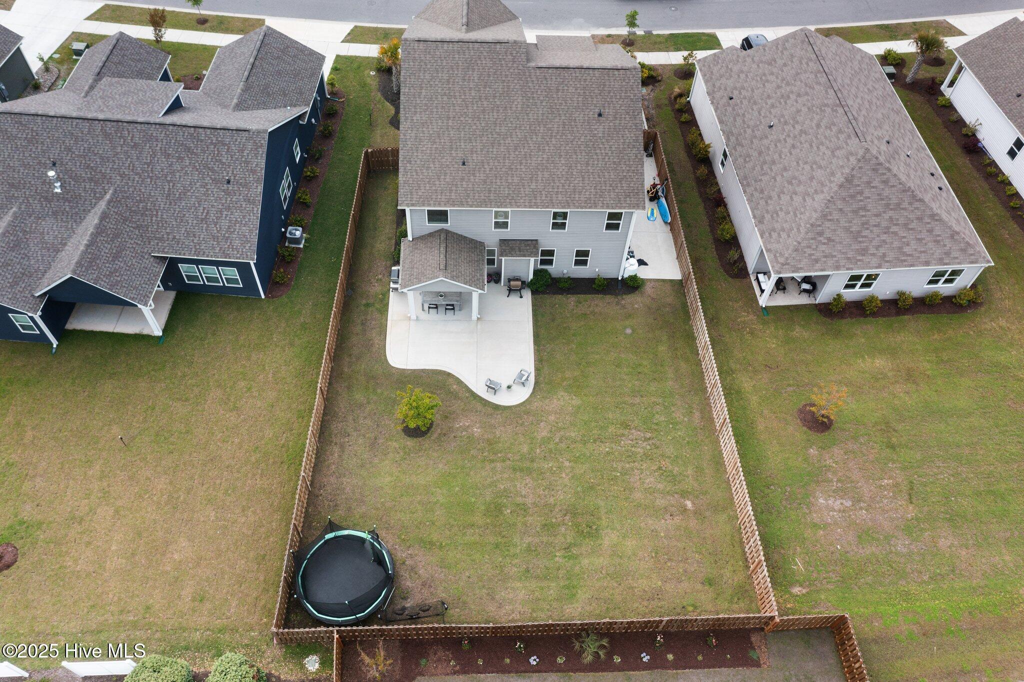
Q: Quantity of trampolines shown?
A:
one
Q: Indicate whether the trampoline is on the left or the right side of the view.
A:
left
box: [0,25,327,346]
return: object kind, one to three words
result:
house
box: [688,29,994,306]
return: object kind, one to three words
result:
house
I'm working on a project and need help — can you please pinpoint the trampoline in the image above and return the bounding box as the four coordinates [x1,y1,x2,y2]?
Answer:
[290,516,394,628]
